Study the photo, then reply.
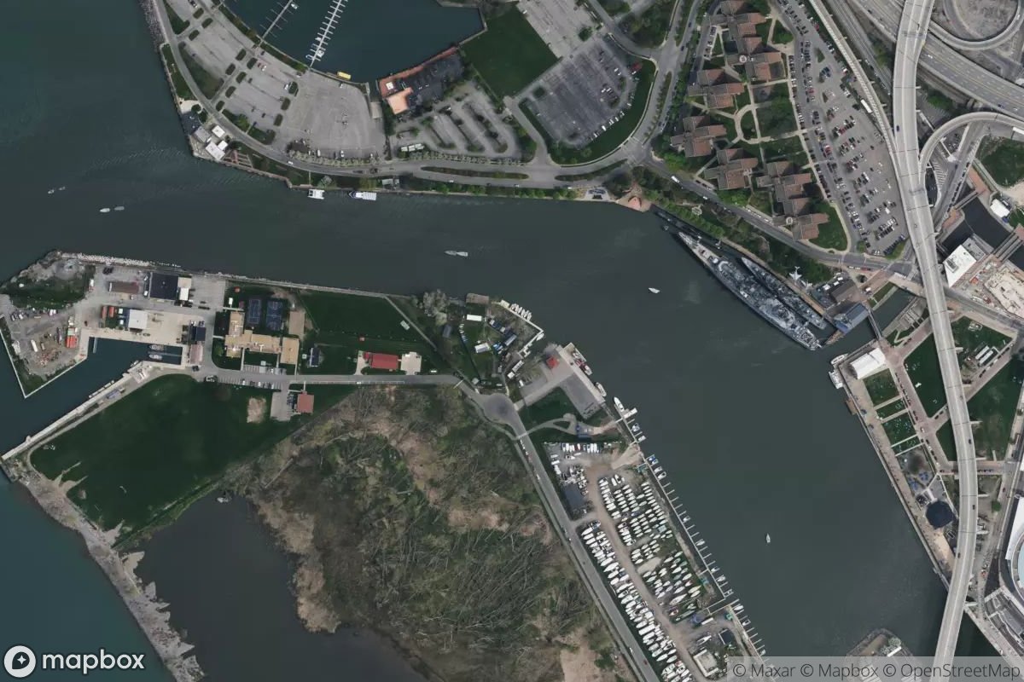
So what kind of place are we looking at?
port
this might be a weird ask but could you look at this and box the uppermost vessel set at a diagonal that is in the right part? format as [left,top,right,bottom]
[654,208,729,256]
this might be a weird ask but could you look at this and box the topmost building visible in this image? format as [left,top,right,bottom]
[710,0,761,55]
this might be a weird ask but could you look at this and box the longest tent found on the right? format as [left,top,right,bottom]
[850,347,887,379]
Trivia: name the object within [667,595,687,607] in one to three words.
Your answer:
boat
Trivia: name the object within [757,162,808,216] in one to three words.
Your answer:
building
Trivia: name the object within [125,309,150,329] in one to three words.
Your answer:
building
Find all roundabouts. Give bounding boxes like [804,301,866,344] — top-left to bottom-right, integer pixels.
[478,393,523,426]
